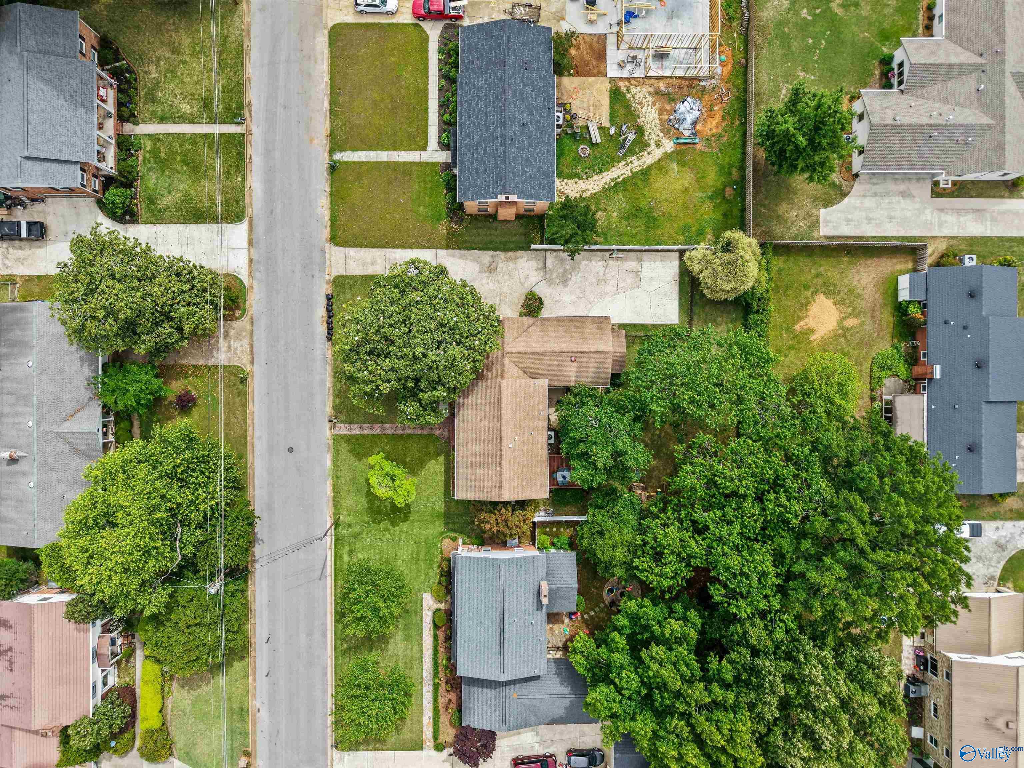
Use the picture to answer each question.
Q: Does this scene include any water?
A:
No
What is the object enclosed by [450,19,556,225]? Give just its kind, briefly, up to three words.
house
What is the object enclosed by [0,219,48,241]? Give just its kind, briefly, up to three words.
truck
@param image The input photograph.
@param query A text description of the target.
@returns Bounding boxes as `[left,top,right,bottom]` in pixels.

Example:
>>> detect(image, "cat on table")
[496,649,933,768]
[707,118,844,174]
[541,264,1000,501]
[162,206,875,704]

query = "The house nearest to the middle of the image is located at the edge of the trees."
[451,315,627,505]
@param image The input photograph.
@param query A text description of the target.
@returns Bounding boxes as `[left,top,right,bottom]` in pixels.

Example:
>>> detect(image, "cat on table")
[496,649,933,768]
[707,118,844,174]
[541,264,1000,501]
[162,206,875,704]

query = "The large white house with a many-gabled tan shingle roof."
[852,0,1024,198]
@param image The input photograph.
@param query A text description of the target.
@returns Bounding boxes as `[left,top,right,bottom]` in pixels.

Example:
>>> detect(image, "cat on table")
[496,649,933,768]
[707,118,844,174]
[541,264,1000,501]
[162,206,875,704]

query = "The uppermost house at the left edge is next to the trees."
[0,1,129,197]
